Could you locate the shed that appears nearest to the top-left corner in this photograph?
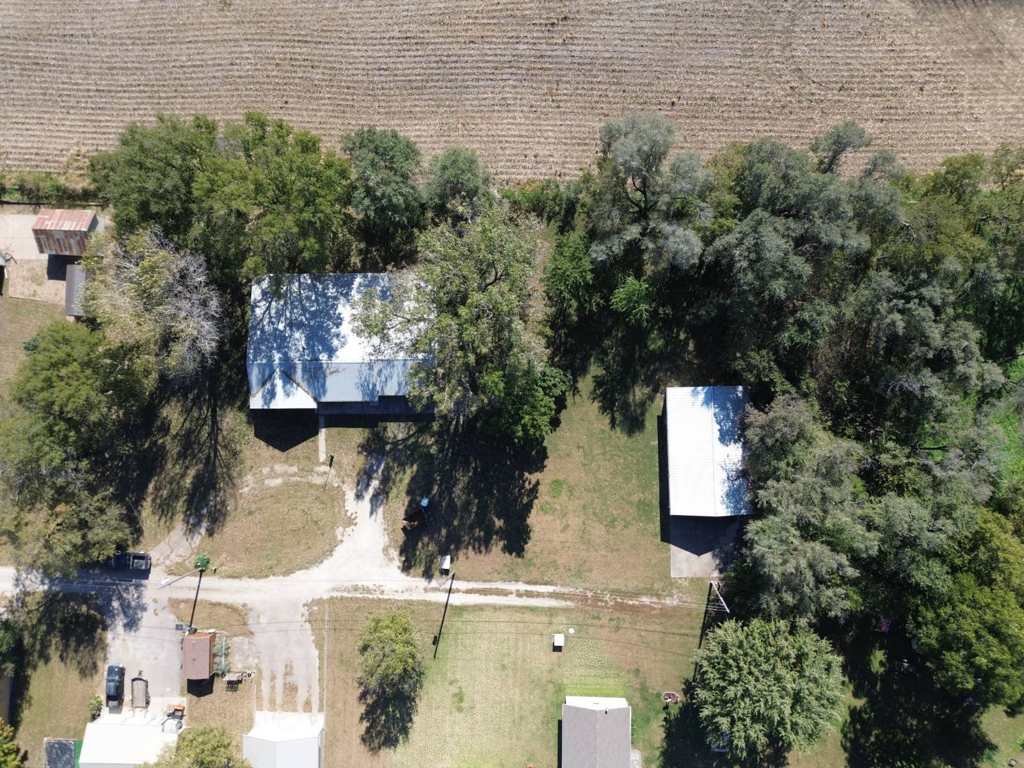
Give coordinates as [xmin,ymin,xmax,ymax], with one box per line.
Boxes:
[32,208,104,258]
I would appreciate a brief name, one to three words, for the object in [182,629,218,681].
shed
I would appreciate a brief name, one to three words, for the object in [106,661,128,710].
truck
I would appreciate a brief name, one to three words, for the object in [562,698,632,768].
house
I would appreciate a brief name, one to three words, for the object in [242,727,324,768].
building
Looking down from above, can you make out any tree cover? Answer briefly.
Yes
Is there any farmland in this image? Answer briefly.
Yes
